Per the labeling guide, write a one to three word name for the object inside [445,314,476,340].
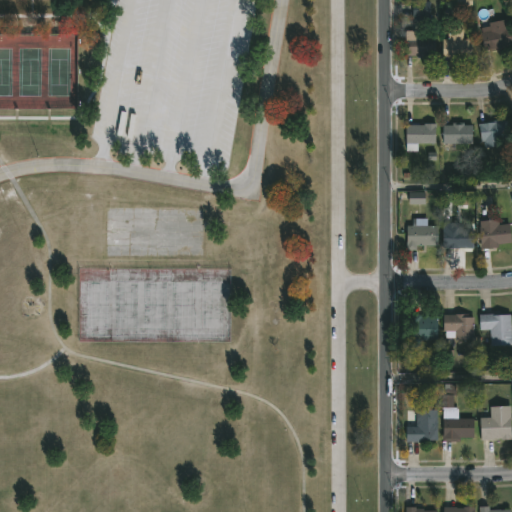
house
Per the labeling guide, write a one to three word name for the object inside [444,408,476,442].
house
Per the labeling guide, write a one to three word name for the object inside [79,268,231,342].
sports court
